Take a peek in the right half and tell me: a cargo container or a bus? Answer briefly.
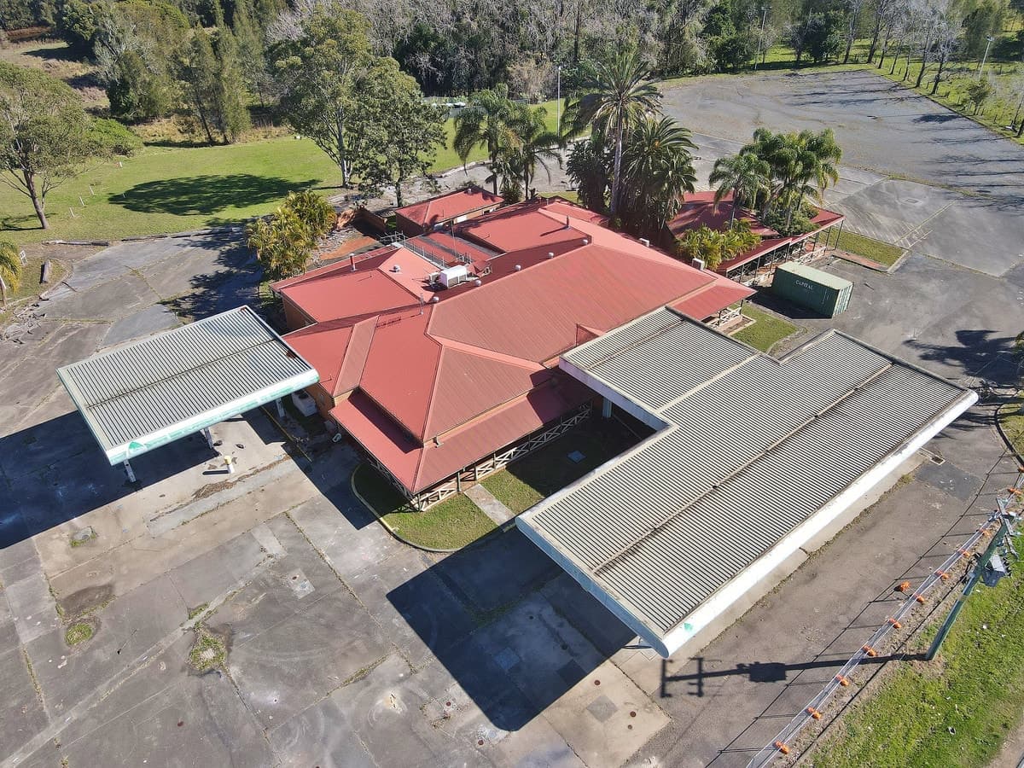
cargo container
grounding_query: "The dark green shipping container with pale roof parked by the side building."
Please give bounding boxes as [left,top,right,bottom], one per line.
[765,257,854,318]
